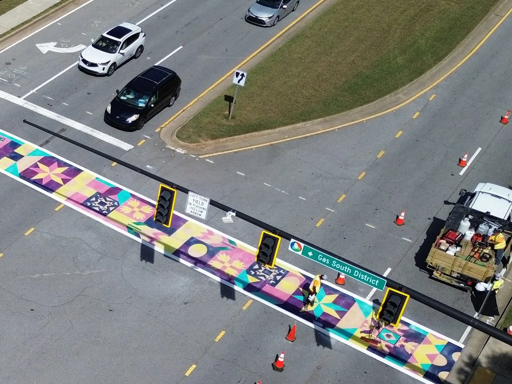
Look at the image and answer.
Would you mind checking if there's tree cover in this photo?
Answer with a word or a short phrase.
No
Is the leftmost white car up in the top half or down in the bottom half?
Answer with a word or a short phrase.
top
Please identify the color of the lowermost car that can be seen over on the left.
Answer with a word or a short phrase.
black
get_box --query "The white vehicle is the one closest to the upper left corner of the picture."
[79,20,146,75]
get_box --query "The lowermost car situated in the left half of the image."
[104,64,182,130]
